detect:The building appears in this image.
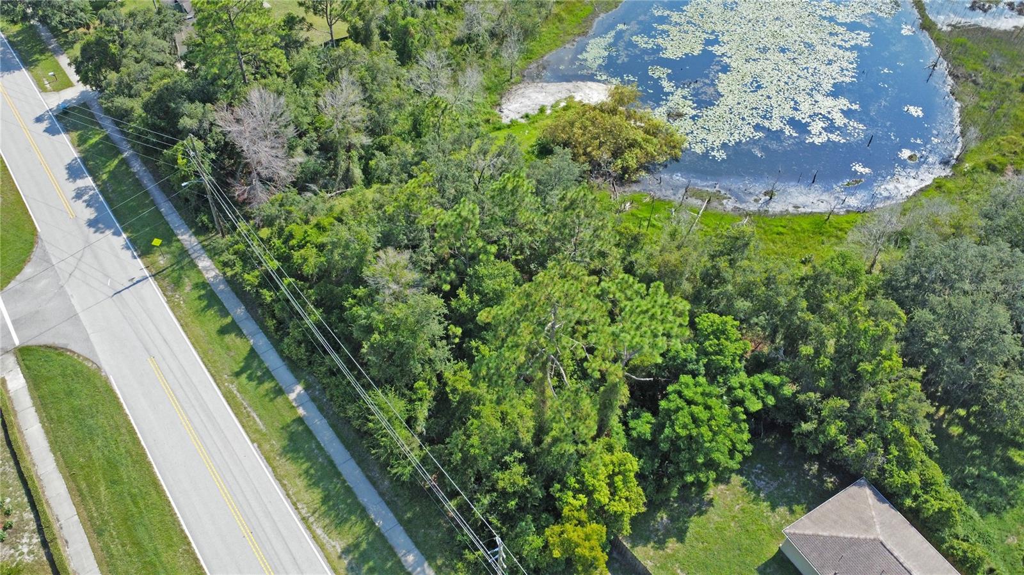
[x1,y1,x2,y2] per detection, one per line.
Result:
[781,477,970,575]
